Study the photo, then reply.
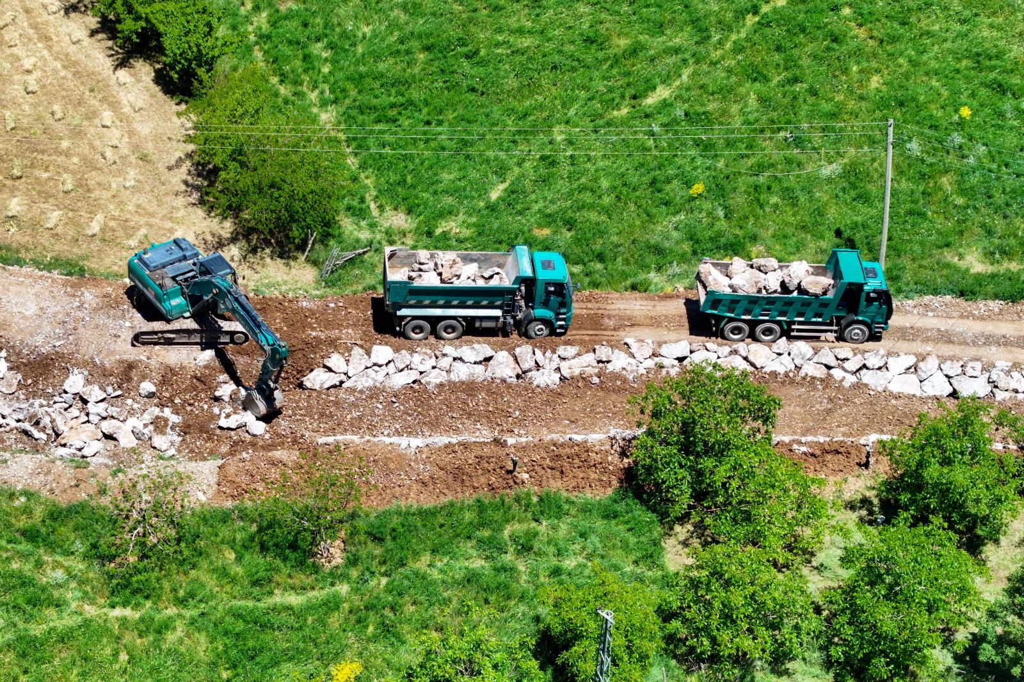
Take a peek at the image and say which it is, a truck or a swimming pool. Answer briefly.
truck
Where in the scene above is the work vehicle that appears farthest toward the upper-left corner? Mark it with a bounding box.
[129,230,291,411]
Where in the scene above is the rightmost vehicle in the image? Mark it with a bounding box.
[695,247,895,343]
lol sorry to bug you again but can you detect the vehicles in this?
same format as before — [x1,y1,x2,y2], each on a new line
[695,247,895,343]
[129,230,291,411]
[383,244,578,340]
